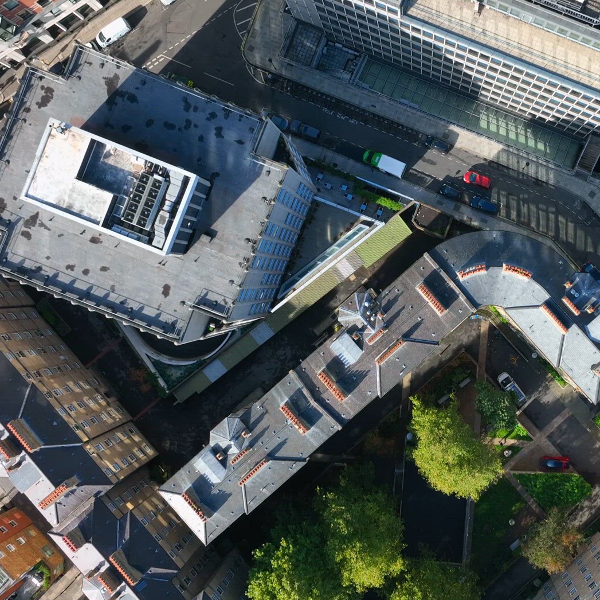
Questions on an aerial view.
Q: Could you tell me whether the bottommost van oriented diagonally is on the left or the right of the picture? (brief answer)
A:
right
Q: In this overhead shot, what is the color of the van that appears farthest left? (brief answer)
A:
white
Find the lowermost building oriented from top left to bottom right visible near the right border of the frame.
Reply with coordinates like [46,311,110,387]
[427,230,600,404]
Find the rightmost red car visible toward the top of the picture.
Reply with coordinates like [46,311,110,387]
[460,169,495,190]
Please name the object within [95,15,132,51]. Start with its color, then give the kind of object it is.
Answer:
white van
